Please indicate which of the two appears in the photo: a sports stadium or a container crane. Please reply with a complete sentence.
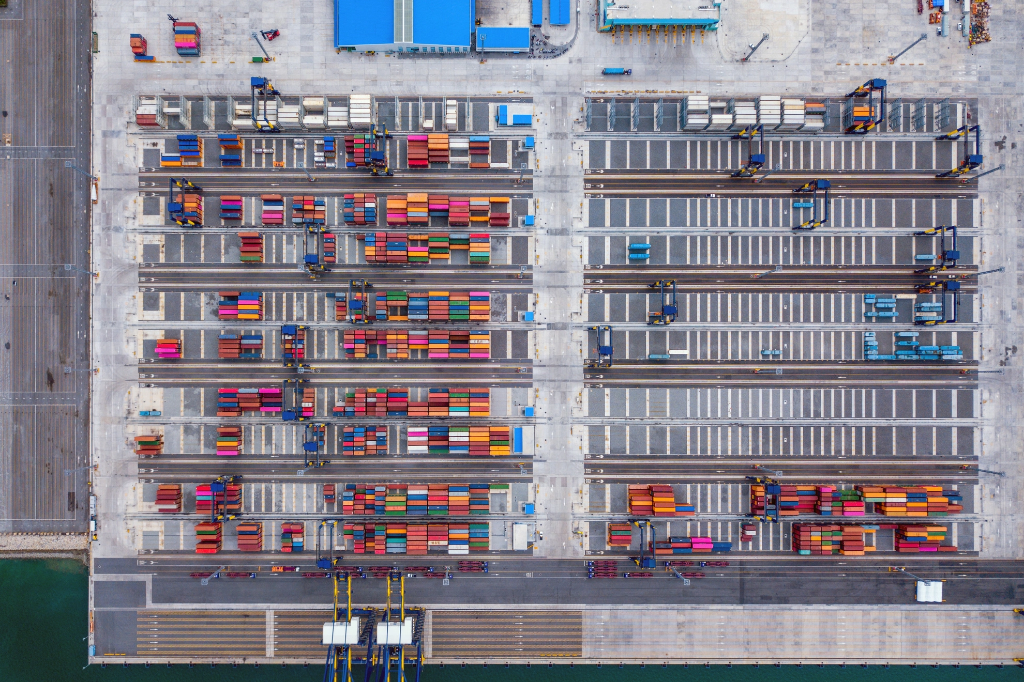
Of the two, only a container crane appears.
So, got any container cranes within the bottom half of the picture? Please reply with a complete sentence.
Yes, within the bottom half of the picture there is a container crane.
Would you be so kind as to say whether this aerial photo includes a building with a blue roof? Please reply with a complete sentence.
Yes, looking at the shot, I can spot a building with a blue roof.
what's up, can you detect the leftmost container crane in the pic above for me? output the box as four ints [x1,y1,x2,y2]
[167,178,202,228]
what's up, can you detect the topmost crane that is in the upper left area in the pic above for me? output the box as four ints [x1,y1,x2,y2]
[250,77,279,132]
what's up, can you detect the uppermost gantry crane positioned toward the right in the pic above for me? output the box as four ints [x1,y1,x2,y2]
[847,78,888,133]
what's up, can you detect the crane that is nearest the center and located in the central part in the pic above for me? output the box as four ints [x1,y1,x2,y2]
[589,324,614,368]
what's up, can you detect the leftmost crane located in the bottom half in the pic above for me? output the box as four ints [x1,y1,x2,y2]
[210,475,242,523]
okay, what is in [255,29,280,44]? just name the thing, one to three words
work vehicle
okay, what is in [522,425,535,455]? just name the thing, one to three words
building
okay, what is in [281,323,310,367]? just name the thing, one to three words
container crane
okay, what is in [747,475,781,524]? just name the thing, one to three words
container crane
